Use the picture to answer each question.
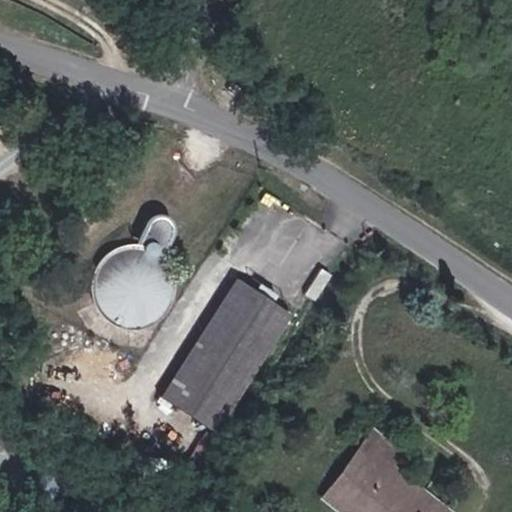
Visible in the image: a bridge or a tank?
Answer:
tank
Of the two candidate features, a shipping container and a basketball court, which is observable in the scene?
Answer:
shipping container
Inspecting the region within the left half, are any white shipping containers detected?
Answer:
No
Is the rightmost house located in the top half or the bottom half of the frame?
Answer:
bottom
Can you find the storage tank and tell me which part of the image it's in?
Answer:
left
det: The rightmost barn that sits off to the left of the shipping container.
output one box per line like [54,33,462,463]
[162,270,290,430]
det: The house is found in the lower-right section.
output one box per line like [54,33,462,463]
[320,430,456,512]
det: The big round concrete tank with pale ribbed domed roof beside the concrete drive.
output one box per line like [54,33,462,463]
[92,214,177,338]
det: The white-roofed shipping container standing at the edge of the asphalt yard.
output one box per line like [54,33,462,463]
[305,268,332,300]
